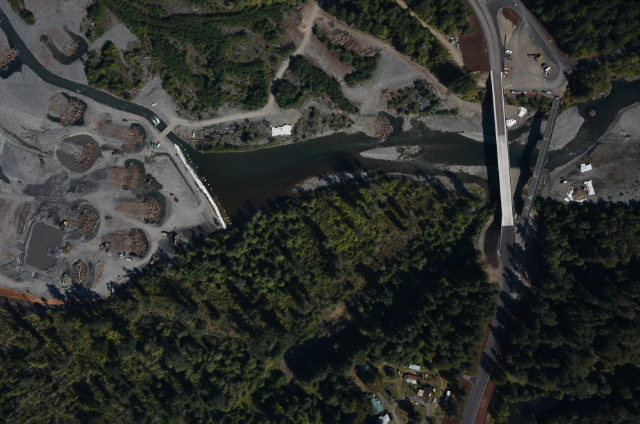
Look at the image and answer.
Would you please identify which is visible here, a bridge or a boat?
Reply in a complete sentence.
I can see a bridge in this picture.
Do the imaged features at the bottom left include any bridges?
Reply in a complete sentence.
No, no bridge is visible at the bottom left.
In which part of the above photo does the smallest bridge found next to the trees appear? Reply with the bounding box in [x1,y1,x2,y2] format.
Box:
[517,96,559,222]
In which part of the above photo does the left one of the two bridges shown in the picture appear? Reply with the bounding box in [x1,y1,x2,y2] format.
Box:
[491,73,514,226]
